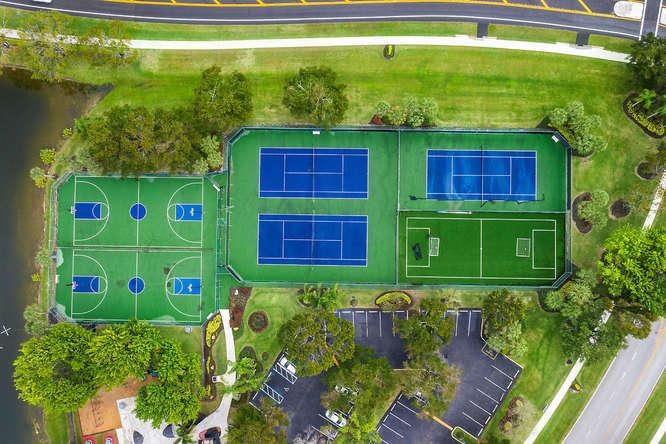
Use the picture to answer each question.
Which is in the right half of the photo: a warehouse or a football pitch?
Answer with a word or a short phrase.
football pitch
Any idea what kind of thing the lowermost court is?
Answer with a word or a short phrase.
basketball court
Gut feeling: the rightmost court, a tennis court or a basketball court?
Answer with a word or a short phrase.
tennis court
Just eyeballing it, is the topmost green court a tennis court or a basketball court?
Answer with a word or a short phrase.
basketball court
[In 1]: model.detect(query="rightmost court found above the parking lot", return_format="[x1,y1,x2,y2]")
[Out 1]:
[427,150,537,201]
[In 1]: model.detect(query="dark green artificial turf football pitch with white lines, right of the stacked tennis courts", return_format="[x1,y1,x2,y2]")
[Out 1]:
[397,212,566,285]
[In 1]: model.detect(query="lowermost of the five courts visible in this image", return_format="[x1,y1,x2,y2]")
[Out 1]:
[72,250,202,320]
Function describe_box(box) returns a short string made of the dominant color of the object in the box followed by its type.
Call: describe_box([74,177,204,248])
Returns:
green basketball court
